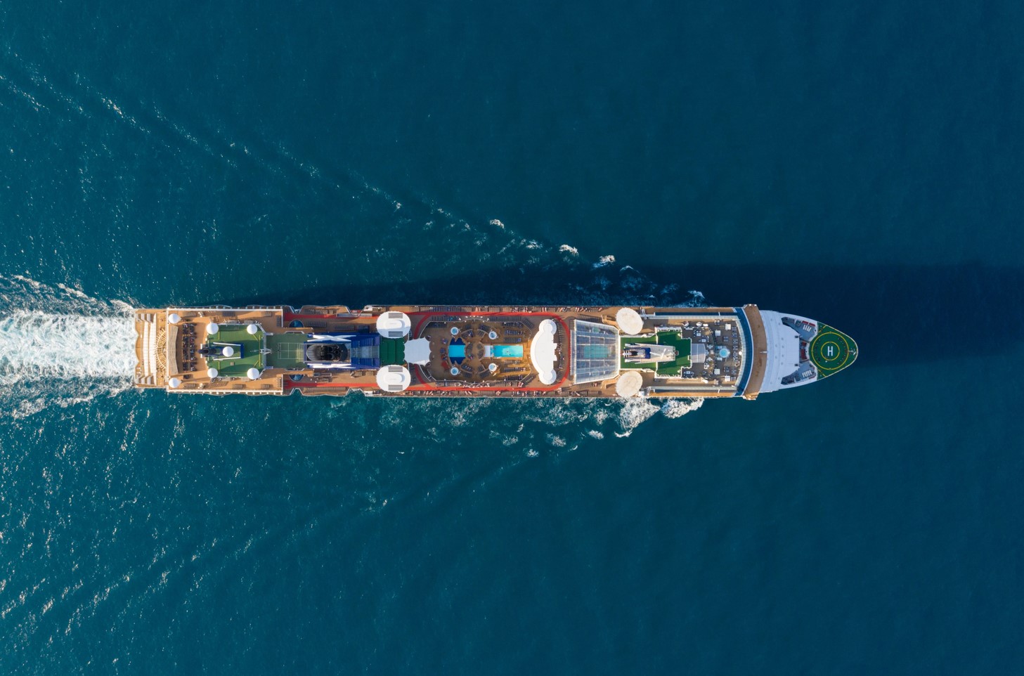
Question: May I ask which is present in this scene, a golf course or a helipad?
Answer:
helipad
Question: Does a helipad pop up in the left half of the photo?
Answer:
No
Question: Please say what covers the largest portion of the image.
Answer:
water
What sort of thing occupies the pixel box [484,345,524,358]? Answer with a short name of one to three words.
swimming pool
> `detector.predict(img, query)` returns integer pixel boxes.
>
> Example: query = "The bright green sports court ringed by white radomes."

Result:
[210,325,264,377]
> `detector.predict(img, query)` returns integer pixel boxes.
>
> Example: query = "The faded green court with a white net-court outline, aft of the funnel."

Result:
[266,334,304,369]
